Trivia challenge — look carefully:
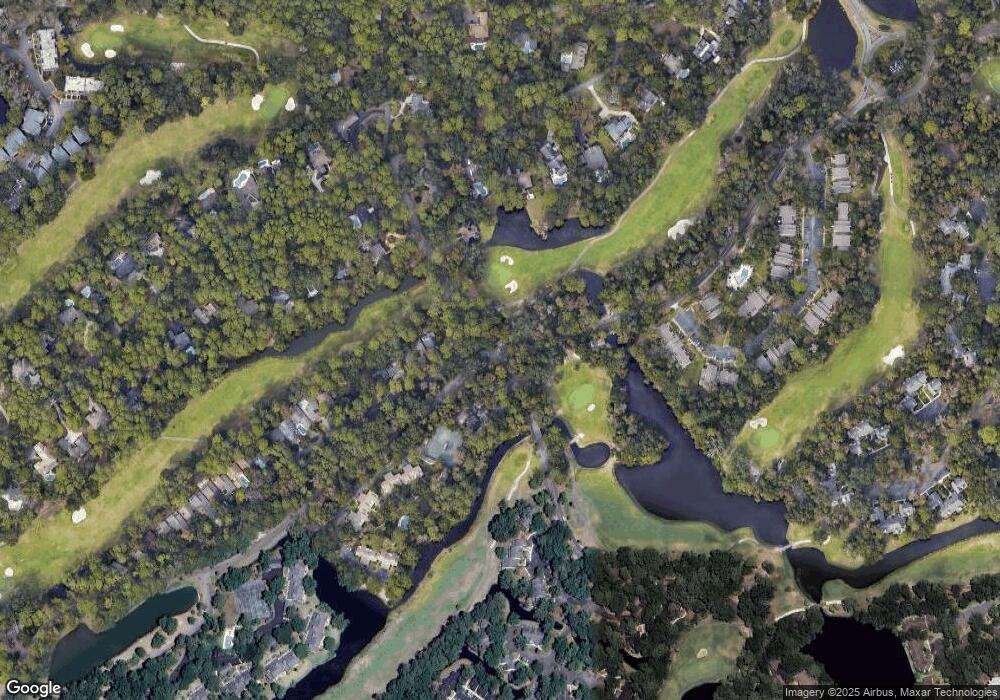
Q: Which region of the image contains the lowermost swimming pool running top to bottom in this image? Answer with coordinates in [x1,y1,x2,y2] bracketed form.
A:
[223,627,236,650]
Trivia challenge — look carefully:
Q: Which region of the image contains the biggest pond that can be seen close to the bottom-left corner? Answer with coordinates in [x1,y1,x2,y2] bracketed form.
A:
[49,586,199,686]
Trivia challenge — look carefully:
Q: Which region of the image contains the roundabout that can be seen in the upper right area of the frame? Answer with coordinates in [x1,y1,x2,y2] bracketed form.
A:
[861,30,931,104]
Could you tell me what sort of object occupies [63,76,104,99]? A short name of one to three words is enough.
building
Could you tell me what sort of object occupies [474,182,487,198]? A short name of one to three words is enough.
swimming pool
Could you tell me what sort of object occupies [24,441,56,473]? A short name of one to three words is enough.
house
